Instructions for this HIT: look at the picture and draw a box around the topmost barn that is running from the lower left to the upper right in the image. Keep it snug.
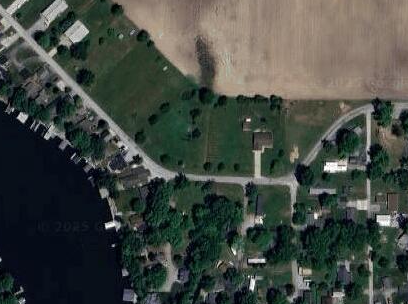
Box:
[42,0,68,25]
